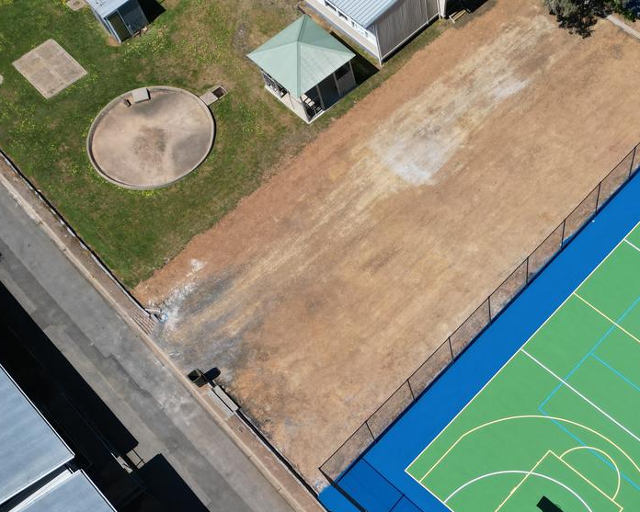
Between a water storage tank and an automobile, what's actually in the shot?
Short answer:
water storage tank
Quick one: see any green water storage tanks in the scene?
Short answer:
No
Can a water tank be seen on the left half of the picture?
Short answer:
Yes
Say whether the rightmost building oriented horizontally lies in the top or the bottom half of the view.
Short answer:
top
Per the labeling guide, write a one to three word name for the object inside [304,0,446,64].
building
